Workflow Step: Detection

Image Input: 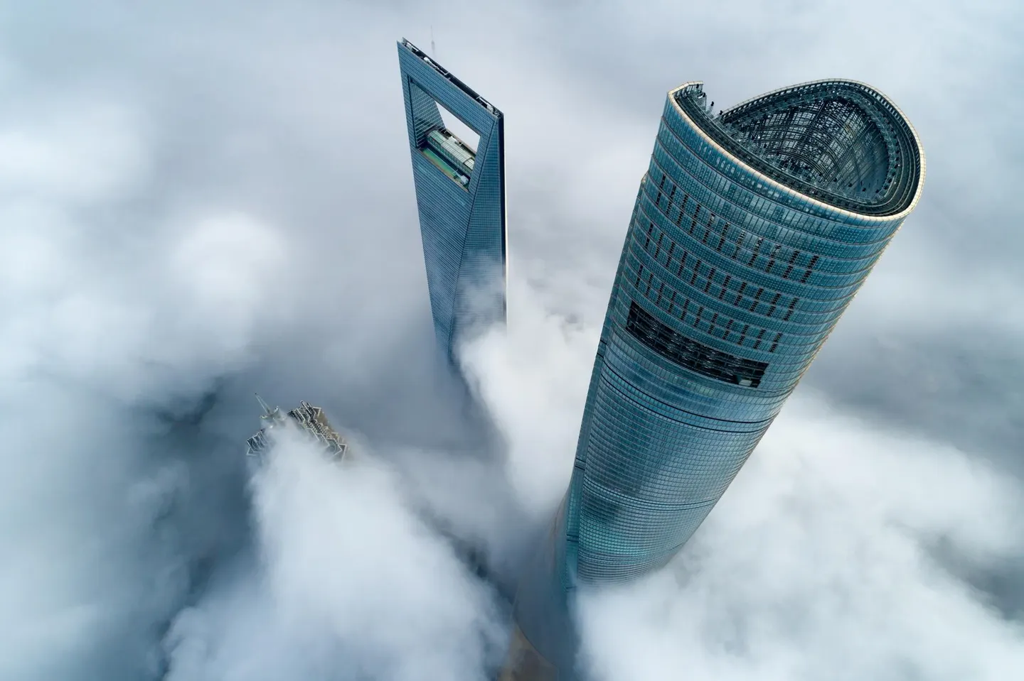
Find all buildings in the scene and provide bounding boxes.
[520,76,924,671]
[396,39,506,483]
[239,388,420,624]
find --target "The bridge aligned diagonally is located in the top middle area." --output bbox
[427,123,477,171]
